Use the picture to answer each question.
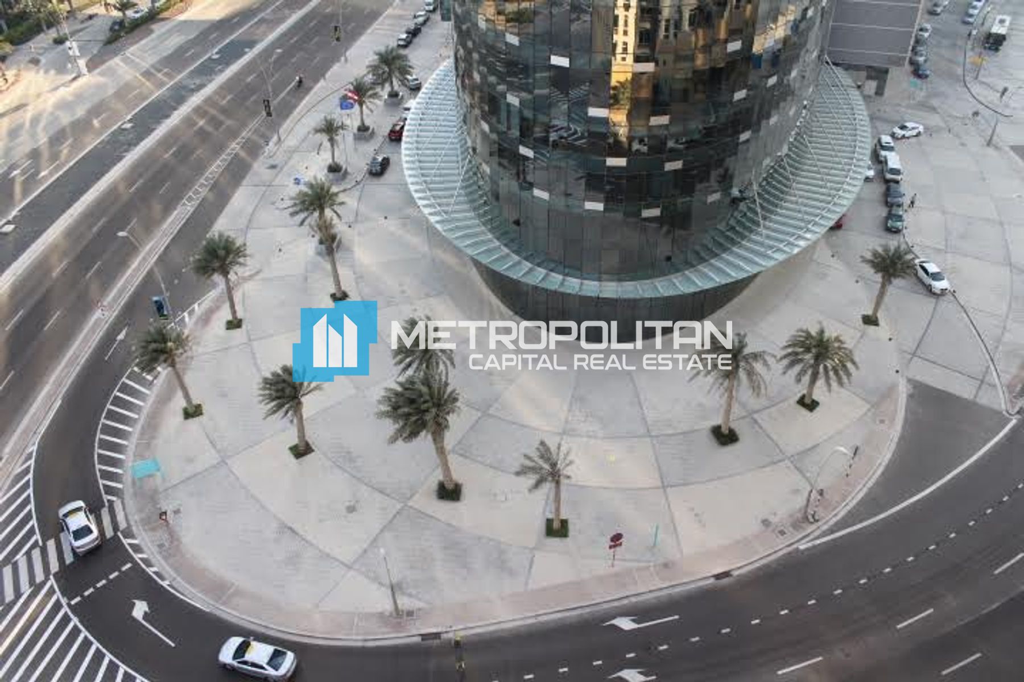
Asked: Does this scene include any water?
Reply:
No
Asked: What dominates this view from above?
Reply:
paved ground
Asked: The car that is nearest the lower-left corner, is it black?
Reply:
No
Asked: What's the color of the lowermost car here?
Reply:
white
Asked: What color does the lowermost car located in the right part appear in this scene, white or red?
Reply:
white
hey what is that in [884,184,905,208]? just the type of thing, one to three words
car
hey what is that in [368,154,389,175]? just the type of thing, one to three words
car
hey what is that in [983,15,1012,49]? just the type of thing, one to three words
bus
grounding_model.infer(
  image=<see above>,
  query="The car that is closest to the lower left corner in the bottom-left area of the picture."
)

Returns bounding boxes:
[59,502,99,553]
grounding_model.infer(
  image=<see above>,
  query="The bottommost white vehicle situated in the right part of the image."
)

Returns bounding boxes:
[914,263,948,293]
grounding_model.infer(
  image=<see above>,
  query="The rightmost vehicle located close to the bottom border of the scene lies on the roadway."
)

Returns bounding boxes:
[220,635,296,681]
